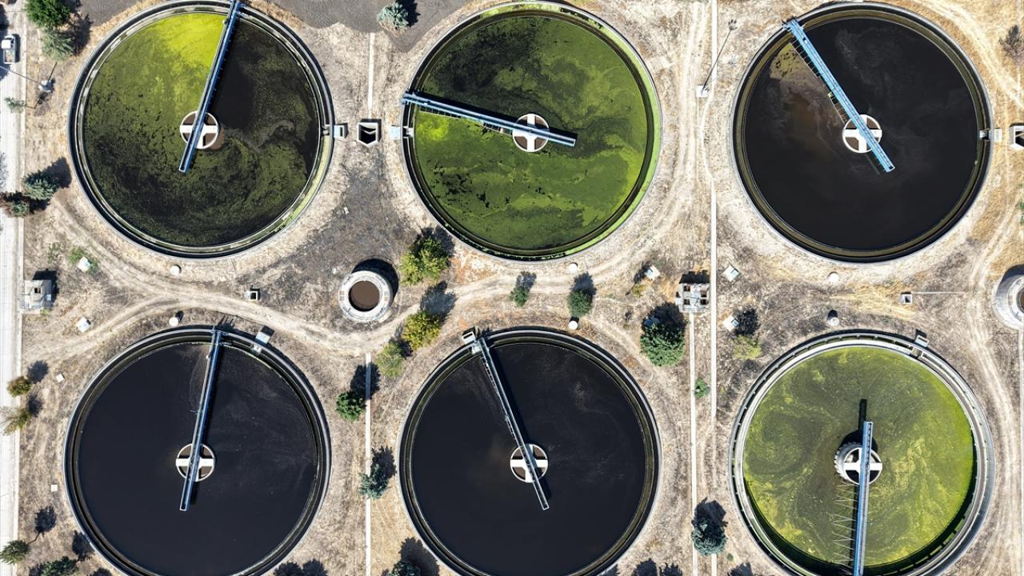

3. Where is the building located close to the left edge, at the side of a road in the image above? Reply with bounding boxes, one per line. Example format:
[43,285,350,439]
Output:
[15,281,60,316]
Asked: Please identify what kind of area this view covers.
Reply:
industrial area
